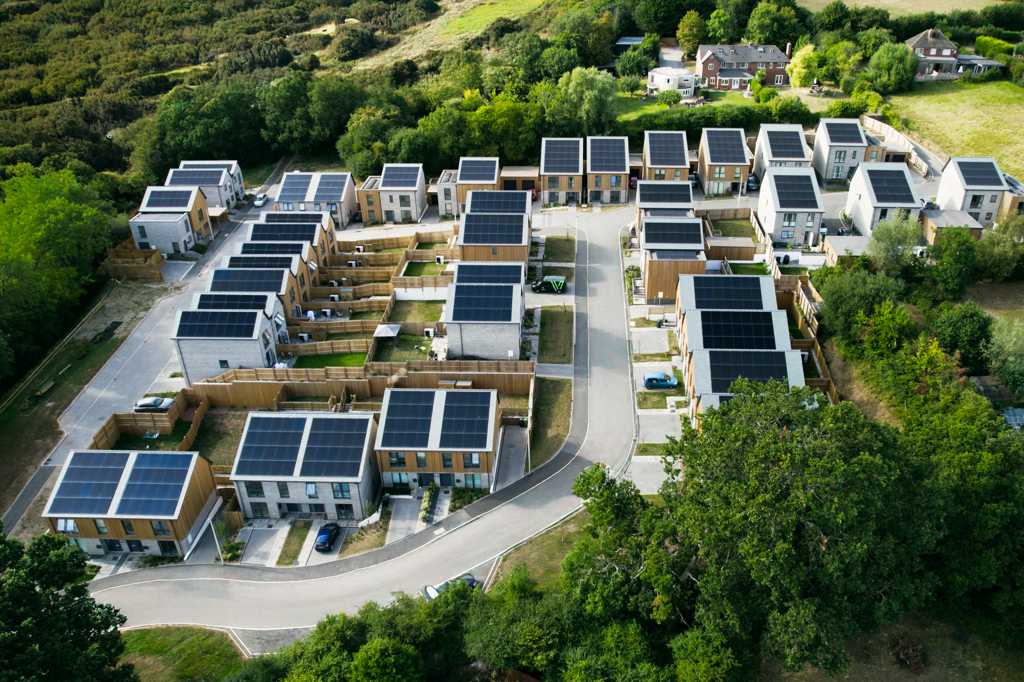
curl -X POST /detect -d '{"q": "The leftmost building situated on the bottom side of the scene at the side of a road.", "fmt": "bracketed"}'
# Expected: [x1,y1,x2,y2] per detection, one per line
[41,448,218,554]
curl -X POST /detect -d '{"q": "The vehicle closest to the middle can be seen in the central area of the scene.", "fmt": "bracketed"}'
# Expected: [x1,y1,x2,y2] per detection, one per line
[532,273,568,291]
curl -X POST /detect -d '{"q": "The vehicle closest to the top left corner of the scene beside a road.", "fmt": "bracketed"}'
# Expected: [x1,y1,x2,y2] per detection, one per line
[254,191,269,203]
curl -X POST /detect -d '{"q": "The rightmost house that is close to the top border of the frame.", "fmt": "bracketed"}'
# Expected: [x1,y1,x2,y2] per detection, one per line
[897,25,1002,76]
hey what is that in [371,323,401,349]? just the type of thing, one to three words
gazebo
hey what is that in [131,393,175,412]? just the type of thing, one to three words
car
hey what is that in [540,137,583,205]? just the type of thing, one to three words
house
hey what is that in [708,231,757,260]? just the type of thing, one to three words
shed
